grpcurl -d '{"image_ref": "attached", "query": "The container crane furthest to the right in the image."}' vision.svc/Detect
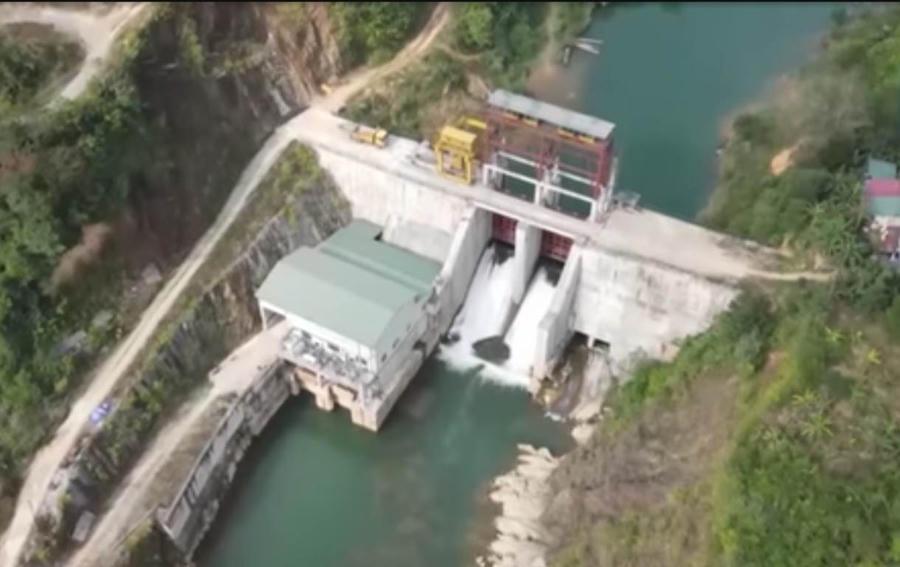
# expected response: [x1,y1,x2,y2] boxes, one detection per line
[433,123,490,190]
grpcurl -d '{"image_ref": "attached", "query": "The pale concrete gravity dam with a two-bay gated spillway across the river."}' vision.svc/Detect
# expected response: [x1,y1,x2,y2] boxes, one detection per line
[315,115,771,428]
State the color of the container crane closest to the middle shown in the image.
yellow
